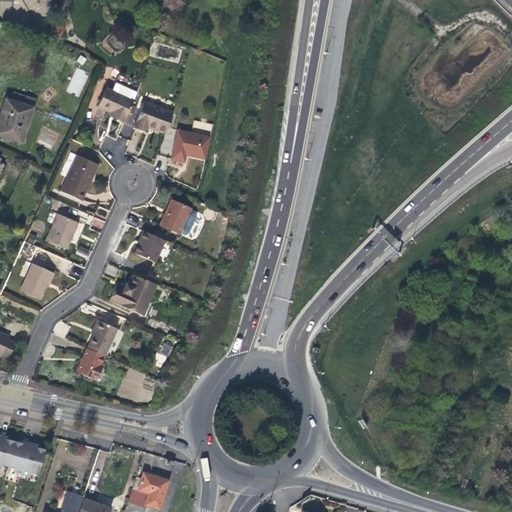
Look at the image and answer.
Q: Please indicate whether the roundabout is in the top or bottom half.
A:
bottom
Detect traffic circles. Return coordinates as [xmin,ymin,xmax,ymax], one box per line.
[180,348,325,505]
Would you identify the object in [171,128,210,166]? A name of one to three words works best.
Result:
house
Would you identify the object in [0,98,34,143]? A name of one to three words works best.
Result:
house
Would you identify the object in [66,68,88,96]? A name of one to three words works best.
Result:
shed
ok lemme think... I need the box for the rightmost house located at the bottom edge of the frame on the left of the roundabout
[128,472,170,510]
